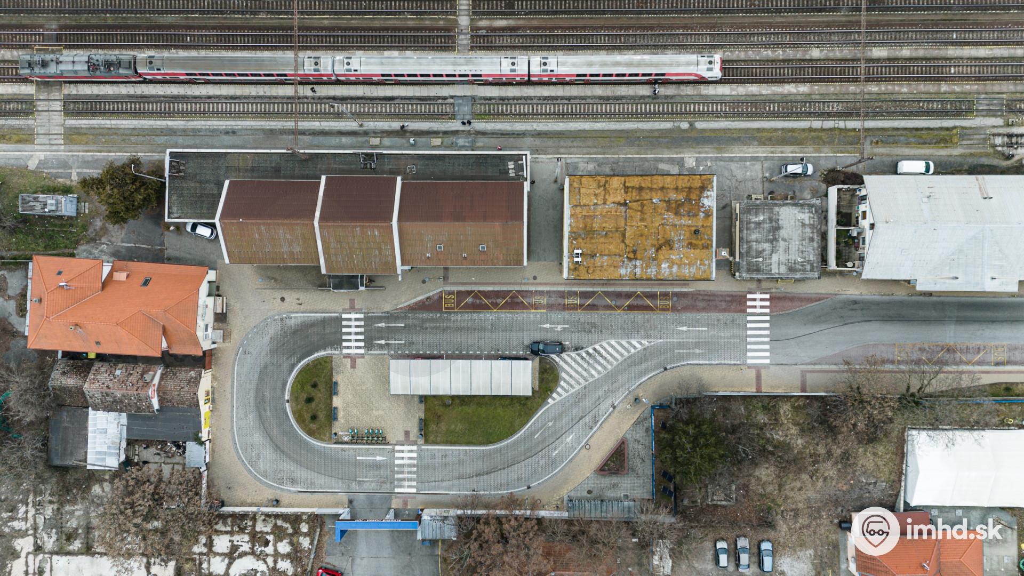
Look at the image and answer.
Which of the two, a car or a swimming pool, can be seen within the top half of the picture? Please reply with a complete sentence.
You can see a car within the top half of the picture.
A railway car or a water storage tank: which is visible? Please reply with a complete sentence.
It is a railway car that can be seen here.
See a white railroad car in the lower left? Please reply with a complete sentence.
No, I can find no white railroad car in the lower left.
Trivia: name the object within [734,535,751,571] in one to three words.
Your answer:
car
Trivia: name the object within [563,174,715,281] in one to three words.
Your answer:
building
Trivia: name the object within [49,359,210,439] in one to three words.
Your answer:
house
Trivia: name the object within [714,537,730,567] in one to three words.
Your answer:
car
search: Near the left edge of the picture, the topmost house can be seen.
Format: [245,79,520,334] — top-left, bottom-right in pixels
[27,254,215,357]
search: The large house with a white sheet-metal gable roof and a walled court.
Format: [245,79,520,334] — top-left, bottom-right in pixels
[857,175,1024,292]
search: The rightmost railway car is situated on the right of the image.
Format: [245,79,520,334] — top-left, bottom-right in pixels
[526,53,721,83]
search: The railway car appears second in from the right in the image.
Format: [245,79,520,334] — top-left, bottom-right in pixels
[332,54,526,83]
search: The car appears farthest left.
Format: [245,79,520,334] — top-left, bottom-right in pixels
[185,222,217,241]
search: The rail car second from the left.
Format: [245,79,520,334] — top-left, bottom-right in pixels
[134,53,339,83]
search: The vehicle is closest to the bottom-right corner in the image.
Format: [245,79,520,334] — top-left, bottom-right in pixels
[758,538,774,572]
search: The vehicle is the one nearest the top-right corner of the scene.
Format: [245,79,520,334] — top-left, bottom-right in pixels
[895,158,933,175]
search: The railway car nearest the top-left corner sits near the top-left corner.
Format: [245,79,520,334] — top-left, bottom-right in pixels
[22,53,149,81]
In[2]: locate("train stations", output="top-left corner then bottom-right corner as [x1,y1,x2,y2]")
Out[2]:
[165,150,530,292]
